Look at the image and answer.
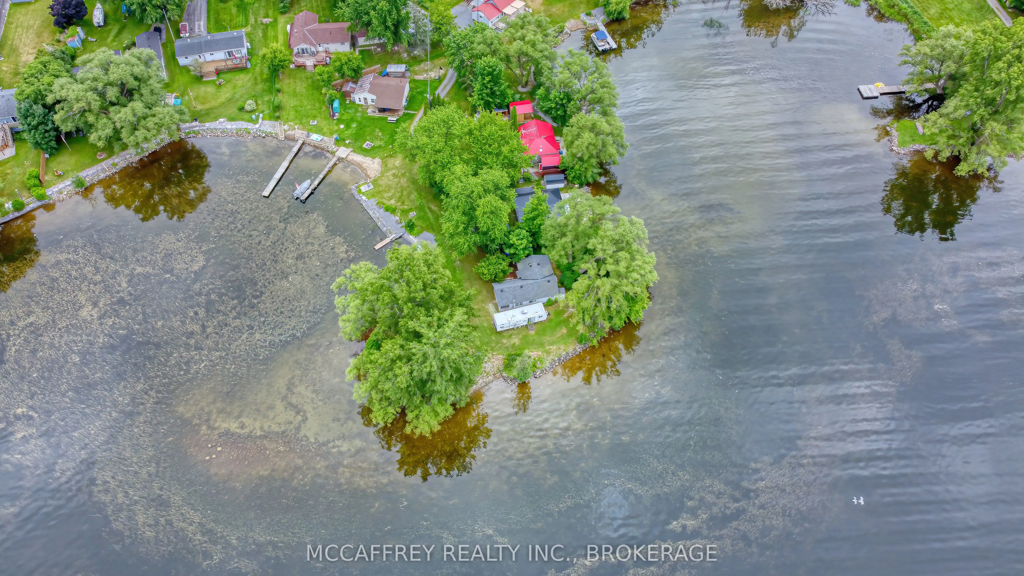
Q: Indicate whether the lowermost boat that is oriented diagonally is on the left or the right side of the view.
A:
left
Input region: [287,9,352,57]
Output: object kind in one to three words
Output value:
house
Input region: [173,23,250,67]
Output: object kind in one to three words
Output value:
house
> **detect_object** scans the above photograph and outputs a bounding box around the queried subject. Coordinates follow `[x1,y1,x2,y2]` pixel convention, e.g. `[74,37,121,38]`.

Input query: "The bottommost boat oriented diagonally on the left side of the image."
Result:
[289,177,309,199]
